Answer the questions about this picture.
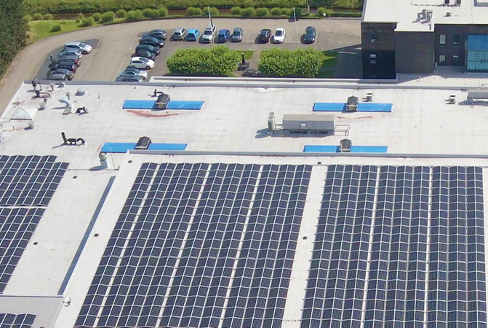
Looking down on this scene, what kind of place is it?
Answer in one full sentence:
This looks like an industrial area.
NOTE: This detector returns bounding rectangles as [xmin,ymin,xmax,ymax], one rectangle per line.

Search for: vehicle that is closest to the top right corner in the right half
[303,27,317,43]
